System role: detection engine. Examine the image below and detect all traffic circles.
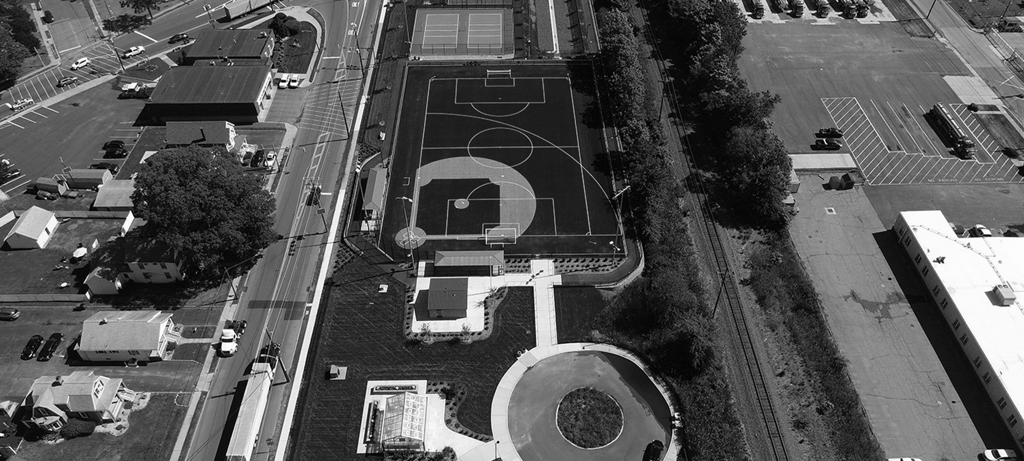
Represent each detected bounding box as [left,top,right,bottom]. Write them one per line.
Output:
[506,350,674,461]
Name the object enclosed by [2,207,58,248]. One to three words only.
building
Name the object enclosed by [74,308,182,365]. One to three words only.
house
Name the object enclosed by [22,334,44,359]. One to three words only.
car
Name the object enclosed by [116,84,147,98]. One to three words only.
vehicle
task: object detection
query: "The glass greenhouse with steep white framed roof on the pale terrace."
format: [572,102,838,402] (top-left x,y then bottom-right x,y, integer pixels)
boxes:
[381,391,427,450]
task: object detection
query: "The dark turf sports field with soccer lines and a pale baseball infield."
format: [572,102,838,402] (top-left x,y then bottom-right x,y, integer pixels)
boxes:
[380,60,632,261]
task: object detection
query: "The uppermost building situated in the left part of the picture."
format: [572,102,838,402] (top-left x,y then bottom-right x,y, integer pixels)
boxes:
[144,29,280,123]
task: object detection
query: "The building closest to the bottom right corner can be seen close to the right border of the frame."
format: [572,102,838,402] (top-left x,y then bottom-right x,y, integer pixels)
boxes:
[890,210,1024,457]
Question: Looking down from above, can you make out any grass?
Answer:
Yes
